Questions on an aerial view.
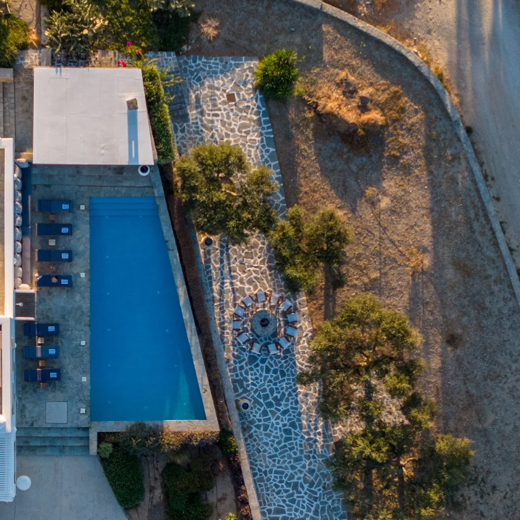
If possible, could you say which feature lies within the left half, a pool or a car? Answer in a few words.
pool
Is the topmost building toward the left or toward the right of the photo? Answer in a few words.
left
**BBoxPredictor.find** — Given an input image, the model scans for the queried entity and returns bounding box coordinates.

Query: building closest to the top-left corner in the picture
[33,67,154,167]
